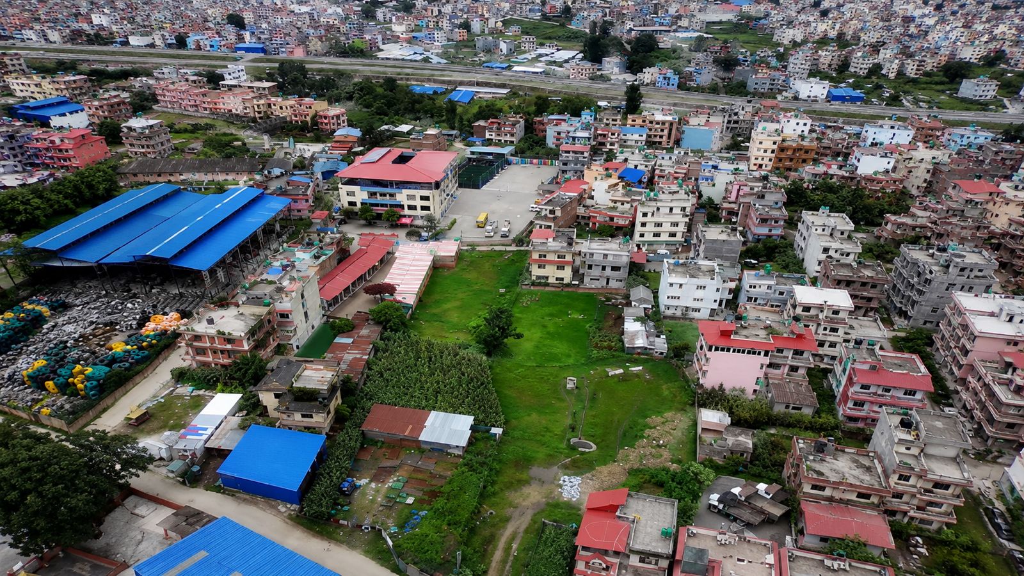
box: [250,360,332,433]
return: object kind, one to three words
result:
house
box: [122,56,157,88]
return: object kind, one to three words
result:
house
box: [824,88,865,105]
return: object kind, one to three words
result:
shed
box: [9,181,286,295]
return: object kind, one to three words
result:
shed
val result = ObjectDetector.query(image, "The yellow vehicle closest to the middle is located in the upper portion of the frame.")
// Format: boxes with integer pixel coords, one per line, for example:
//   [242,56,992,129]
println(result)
[475,211,488,230]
